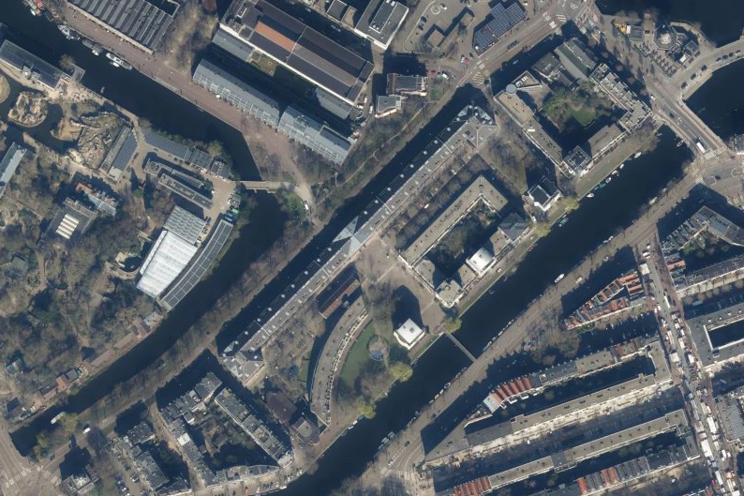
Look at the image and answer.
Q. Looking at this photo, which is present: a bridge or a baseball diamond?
bridge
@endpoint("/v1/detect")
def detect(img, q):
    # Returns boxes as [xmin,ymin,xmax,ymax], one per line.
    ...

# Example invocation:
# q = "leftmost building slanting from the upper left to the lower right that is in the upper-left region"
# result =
[0,40,62,90]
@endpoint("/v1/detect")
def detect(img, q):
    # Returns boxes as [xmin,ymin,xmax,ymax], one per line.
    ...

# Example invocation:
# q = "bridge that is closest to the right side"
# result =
[662,100,735,158]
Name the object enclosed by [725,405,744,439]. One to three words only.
solar panel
